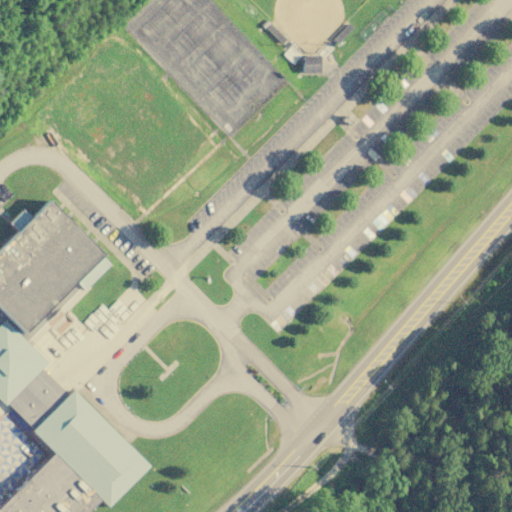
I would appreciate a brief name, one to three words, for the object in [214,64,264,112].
tennis court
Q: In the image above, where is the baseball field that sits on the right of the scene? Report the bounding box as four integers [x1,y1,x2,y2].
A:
[255,0,368,53]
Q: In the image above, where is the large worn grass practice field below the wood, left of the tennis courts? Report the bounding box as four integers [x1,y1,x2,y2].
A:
[48,40,213,206]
